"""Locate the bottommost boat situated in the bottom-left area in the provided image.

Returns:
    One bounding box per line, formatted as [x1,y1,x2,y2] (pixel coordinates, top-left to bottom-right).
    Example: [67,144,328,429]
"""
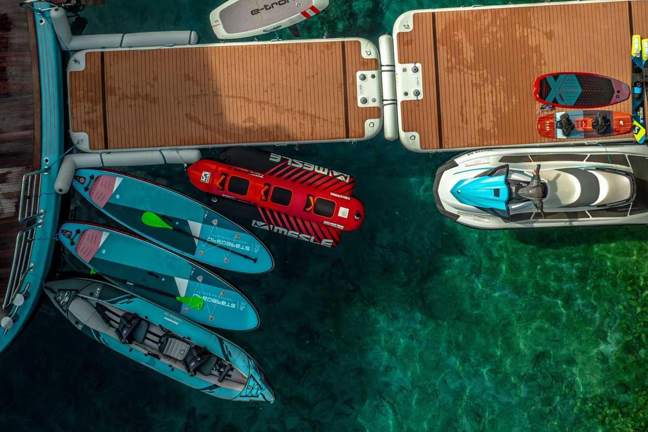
[44,277,276,403]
